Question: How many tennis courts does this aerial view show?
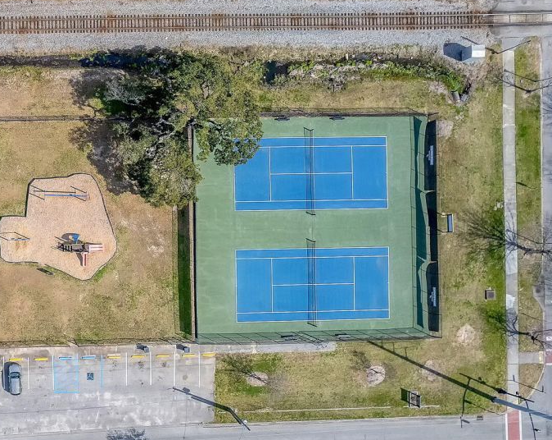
two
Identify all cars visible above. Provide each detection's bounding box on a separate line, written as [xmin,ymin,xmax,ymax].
[8,362,23,396]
